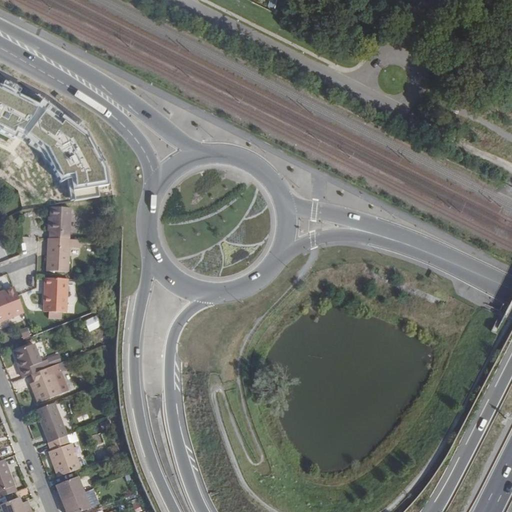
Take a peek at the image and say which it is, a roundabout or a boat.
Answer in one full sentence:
It is a roundabout that can be seen here.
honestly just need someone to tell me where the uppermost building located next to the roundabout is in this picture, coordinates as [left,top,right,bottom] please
[0,79,111,201]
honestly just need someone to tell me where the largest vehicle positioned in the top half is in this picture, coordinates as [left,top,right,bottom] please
[73,88,110,116]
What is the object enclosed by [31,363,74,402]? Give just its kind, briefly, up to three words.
house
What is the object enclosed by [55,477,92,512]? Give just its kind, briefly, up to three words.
house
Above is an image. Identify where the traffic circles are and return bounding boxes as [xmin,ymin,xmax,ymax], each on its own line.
[137,143,296,303]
